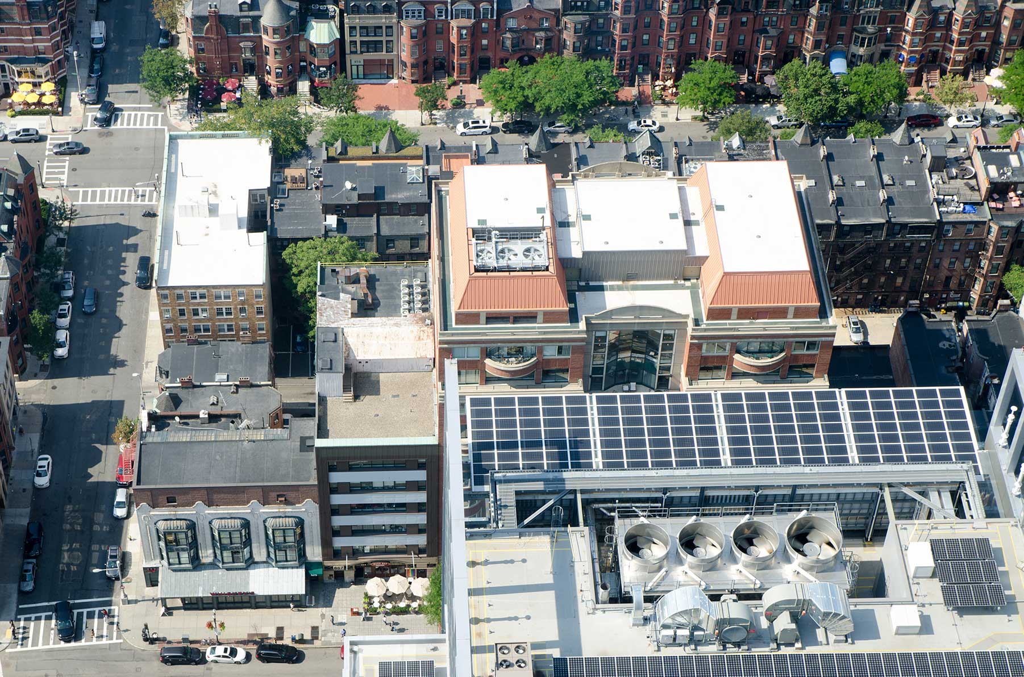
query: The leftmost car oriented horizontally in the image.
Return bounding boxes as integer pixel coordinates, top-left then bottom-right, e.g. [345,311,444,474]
[7,127,41,144]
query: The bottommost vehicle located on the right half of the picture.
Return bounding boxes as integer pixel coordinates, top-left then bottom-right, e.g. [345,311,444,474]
[843,313,864,343]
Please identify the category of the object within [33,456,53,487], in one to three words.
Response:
car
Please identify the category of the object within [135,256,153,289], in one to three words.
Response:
vehicle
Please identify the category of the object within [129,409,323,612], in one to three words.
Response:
building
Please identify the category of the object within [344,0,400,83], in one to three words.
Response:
building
